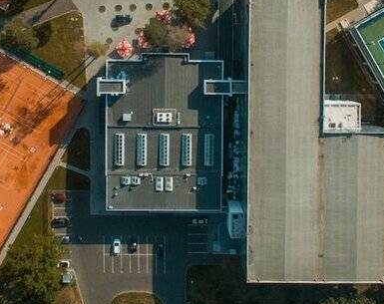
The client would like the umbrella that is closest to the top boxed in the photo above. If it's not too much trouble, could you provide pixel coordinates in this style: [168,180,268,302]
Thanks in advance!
[154,7,172,25]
